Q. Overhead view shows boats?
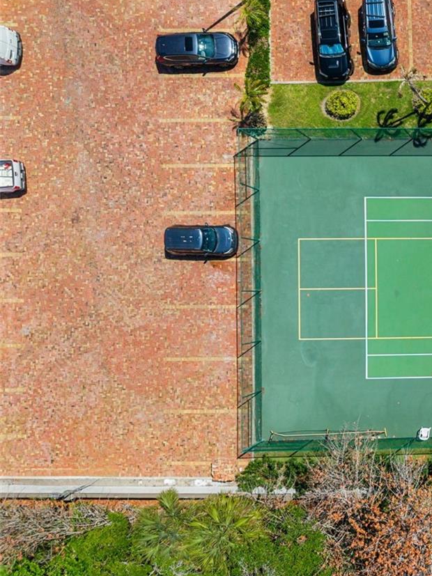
No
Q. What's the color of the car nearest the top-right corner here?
blue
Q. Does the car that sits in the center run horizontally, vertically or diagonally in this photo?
horizontally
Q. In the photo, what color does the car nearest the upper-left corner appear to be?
white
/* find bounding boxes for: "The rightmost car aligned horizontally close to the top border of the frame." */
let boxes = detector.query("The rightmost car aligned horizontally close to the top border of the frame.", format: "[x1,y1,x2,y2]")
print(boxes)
[156,26,240,68]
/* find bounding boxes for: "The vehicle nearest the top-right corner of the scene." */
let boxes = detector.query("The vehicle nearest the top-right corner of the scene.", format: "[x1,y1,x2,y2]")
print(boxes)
[359,0,398,70]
